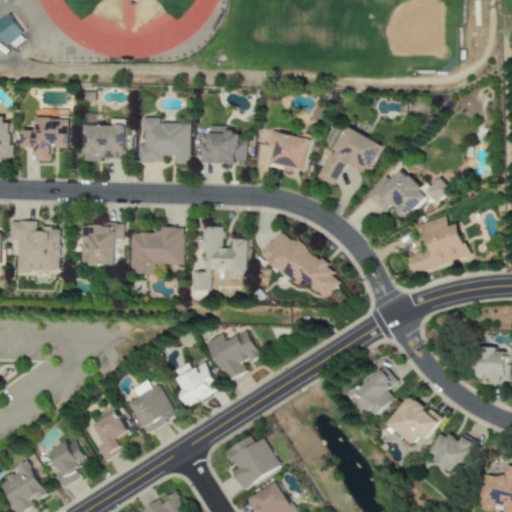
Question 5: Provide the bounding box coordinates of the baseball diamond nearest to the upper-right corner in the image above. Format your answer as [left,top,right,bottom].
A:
[386,0,450,60]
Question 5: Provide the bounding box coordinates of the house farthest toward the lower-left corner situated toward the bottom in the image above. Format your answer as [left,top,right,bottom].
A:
[5,460,48,512]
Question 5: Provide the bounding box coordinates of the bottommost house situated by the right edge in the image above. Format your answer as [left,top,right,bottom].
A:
[482,464,512,511]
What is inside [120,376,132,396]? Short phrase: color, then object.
blue swimming pool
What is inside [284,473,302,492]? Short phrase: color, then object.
blue swimming pool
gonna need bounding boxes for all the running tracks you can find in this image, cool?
[40,0,219,58]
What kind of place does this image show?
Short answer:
residential area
